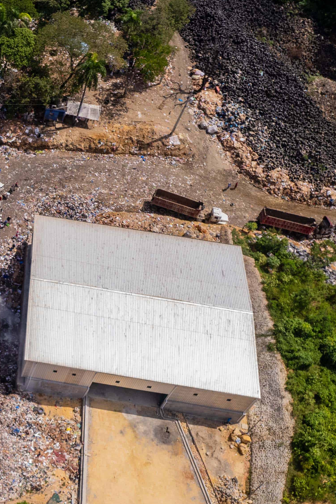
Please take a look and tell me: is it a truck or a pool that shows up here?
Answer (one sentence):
Visible in the photo is a truck.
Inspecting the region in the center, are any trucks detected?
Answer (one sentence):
Yes, a truck appears in the center.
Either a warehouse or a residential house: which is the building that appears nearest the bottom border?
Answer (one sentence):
Looking closely, the building that appears nearest the bottom border is a warehouse.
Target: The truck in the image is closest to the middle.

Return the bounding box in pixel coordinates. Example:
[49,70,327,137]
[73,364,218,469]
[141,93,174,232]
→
[150,188,232,225]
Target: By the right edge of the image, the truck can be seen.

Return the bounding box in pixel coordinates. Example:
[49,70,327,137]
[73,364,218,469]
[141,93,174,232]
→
[258,206,336,237]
